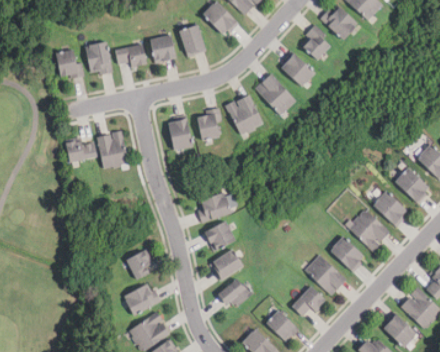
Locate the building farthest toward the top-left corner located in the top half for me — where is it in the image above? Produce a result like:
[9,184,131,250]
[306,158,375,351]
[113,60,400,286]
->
[57,50,84,78]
